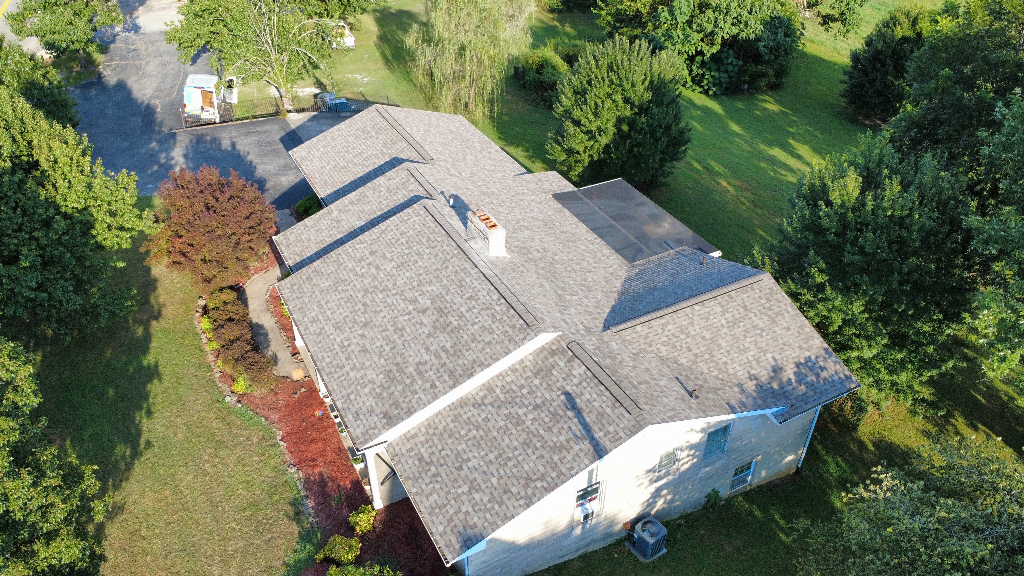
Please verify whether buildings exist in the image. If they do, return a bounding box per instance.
[272,104,866,576]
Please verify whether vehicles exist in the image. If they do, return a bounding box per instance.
[176,72,240,124]
[326,25,357,54]
[305,90,354,112]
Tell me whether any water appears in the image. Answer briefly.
No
